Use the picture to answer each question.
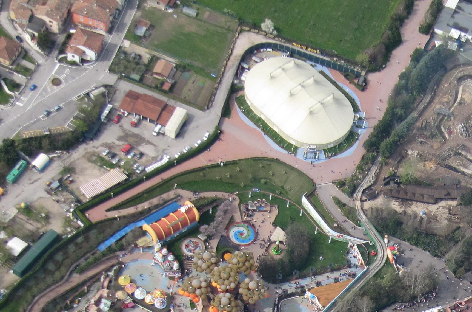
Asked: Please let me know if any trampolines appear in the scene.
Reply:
No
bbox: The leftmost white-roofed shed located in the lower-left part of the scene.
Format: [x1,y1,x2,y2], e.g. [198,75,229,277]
[6,236,28,259]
